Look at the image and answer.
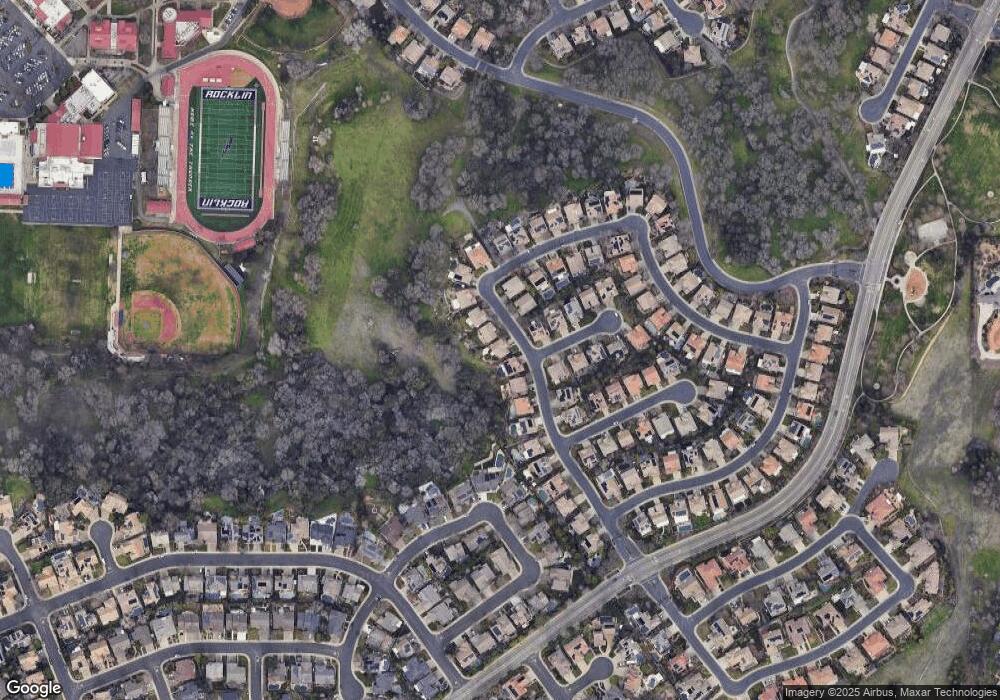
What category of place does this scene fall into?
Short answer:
residential area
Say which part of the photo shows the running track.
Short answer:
top left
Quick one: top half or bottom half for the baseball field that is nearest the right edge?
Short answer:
top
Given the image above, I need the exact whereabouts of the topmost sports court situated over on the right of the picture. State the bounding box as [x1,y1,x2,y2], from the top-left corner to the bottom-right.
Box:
[918,218,949,244]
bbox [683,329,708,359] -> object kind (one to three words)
house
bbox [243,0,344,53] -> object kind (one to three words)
baseball field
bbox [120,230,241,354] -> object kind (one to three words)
baseball field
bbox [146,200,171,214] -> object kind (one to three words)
building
